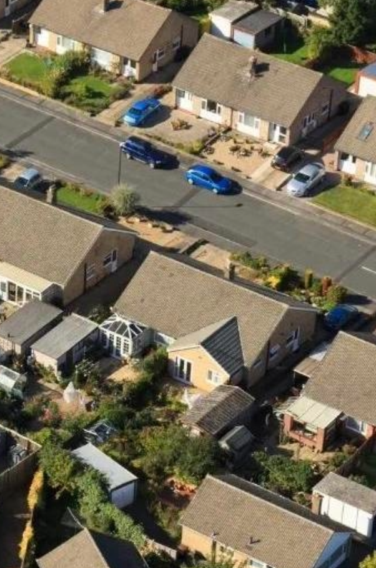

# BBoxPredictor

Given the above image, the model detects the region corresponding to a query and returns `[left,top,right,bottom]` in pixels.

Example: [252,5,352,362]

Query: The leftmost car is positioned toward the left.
[14,164,47,186]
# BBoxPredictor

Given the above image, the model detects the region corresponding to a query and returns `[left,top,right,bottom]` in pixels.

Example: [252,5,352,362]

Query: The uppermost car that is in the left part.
[123,95,162,124]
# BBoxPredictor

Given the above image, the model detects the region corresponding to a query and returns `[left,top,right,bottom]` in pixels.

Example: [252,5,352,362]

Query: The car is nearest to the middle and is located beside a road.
[184,167,235,197]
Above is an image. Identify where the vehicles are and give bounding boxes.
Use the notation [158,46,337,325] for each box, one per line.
[184,167,235,197]
[121,139,170,170]
[14,164,47,186]
[285,162,327,193]
[267,139,307,170]
[123,95,162,124]
[321,297,365,331]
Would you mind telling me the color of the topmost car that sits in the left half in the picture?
blue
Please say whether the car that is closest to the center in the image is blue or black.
blue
